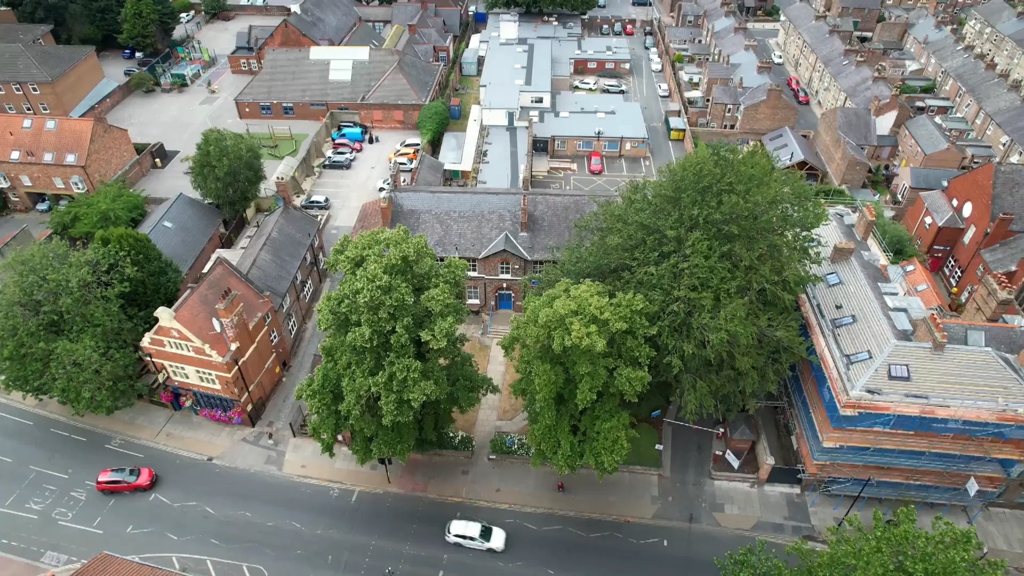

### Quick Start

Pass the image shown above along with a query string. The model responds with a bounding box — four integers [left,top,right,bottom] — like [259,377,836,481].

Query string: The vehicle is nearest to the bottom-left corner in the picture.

[88,460,159,493]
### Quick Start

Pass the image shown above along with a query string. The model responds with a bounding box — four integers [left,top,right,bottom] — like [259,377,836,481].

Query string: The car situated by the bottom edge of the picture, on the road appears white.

[442,513,510,549]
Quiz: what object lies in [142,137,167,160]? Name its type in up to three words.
building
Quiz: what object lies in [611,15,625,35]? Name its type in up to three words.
car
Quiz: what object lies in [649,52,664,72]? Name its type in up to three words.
car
